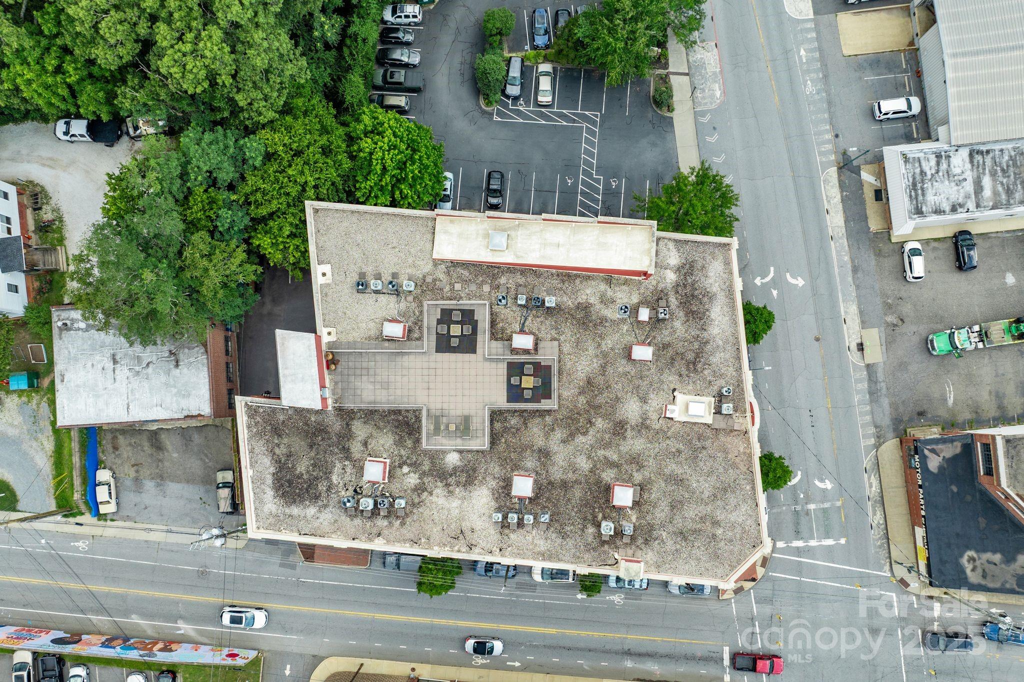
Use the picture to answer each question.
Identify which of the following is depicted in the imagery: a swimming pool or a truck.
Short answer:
truck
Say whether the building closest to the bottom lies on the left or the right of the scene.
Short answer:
right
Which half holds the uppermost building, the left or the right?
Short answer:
right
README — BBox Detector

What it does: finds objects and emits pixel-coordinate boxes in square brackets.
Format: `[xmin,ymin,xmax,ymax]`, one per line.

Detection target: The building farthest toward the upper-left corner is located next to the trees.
[0,169,67,305]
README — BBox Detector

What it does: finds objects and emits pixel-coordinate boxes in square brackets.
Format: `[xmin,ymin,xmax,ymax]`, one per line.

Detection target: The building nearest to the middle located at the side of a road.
[235,201,774,590]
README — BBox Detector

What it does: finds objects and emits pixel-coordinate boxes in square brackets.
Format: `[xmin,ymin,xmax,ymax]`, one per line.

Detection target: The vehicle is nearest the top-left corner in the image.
[56,118,123,146]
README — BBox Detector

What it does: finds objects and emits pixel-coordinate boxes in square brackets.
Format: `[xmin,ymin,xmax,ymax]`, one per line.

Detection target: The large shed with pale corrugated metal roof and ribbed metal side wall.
[918,0,1024,144]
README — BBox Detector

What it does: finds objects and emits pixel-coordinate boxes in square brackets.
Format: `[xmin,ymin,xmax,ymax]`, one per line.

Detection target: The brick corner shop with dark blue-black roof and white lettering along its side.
[902,423,1024,596]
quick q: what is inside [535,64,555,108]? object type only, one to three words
car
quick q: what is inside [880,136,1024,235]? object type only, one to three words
building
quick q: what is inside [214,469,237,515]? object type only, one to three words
car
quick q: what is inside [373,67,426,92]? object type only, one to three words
truck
